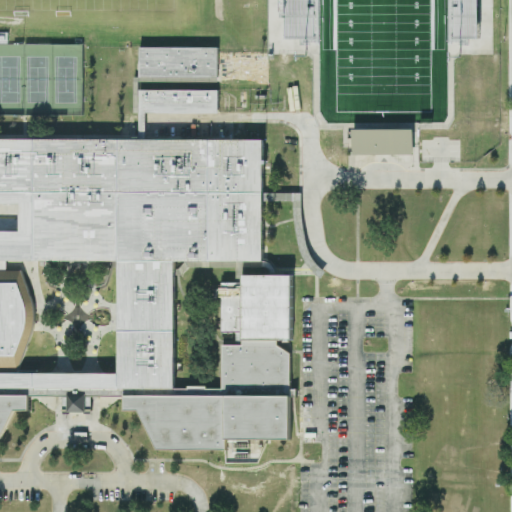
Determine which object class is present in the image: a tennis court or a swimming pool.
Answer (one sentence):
There is a tennis court in the scene.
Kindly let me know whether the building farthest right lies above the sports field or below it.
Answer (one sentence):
The building farthest right is found below the sports field in the photo.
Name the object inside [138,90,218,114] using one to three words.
building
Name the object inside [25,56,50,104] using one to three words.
tennis court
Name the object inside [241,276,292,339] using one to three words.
building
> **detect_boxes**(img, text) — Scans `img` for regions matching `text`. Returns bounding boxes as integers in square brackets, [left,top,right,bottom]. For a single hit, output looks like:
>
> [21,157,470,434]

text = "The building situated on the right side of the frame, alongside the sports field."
[348,128,414,154]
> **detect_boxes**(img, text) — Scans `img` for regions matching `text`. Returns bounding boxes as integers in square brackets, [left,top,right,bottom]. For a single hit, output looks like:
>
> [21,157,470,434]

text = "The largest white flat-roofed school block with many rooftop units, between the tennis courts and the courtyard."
[0,138,264,389]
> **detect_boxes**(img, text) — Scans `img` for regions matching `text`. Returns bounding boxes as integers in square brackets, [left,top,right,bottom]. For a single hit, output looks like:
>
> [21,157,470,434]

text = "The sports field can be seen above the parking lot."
[320,0,448,122]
